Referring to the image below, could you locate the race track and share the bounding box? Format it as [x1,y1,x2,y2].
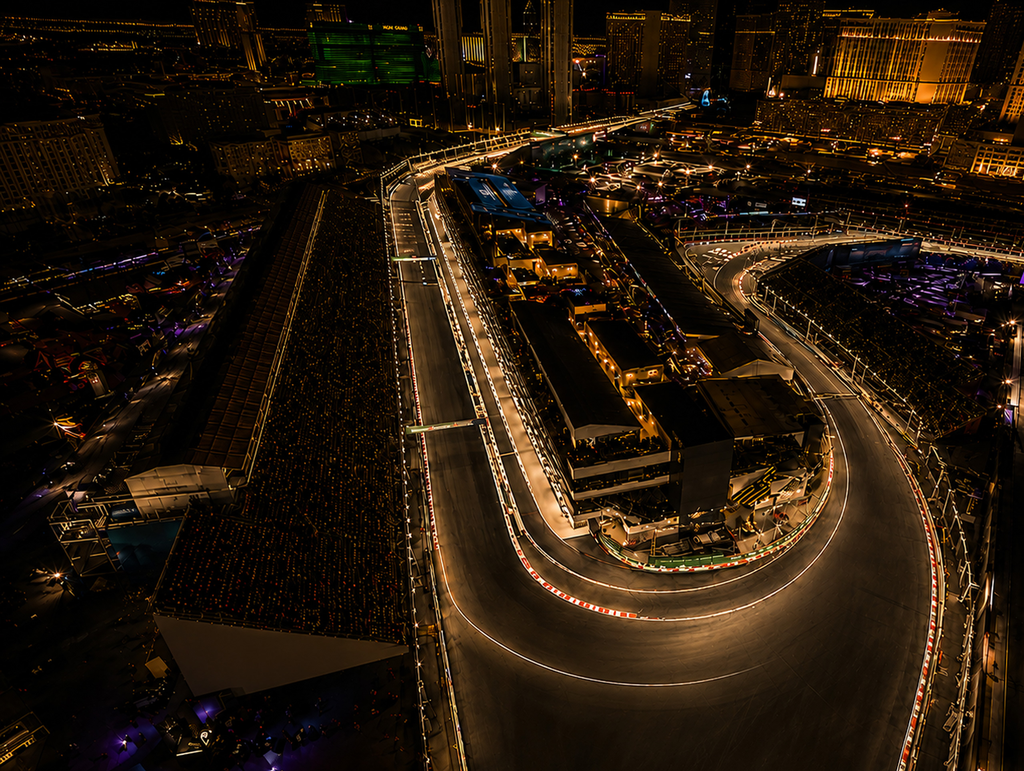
[390,176,1024,771]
